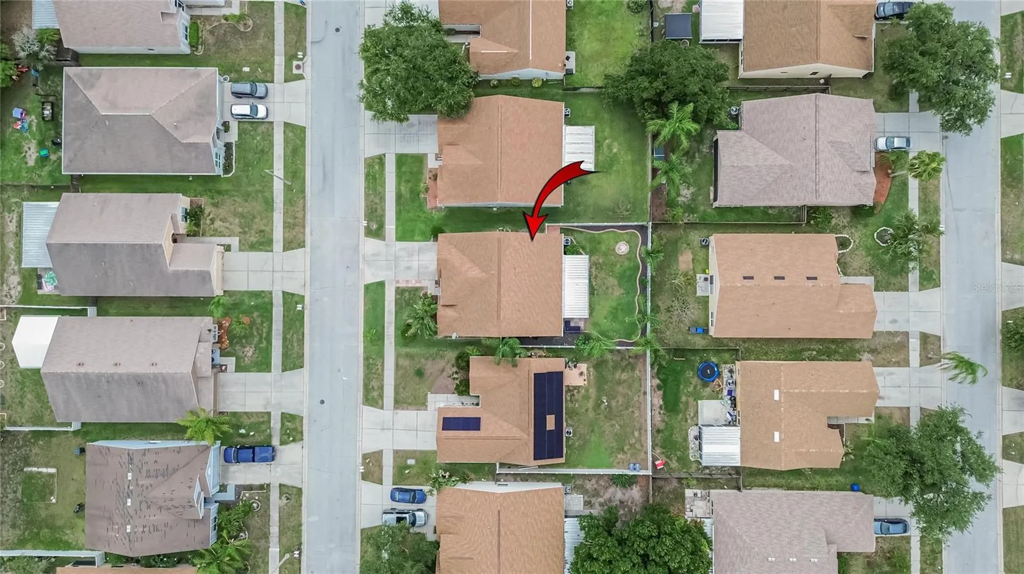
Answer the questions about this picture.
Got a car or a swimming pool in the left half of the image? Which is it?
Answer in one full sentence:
The one visible in the left half of the image is a car.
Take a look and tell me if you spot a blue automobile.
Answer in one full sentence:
Yes, there is a blue automobile in the image.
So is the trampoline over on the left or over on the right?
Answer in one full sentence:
You can find the trampoline on the right side of the picture.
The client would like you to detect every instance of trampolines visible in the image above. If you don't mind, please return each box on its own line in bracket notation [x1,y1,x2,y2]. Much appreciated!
[697,361,719,382]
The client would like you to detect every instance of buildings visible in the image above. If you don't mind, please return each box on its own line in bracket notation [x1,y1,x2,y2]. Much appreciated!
[733,361,881,473]
[436,95,564,207]
[707,233,878,339]
[709,489,875,574]
[42,192,225,296]
[436,230,563,339]
[438,0,566,80]
[436,356,566,466]
[55,561,207,574]
[63,67,228,175]
[709,94,880,208]
[54,0,233,52]
[435,480,564,574]
[40,317,221,423]
[85,441,221,559]
[739,0,876,78]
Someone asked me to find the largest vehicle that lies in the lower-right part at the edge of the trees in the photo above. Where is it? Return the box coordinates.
[875,519,911,537]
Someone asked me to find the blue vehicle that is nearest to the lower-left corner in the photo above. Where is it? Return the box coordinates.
[226,446,276,465]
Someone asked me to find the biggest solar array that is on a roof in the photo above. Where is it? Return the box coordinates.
[534,372,564,460]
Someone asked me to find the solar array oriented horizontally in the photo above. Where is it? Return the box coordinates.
[442,417,480,430]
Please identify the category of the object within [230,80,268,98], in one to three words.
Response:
car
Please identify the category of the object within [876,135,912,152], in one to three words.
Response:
car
